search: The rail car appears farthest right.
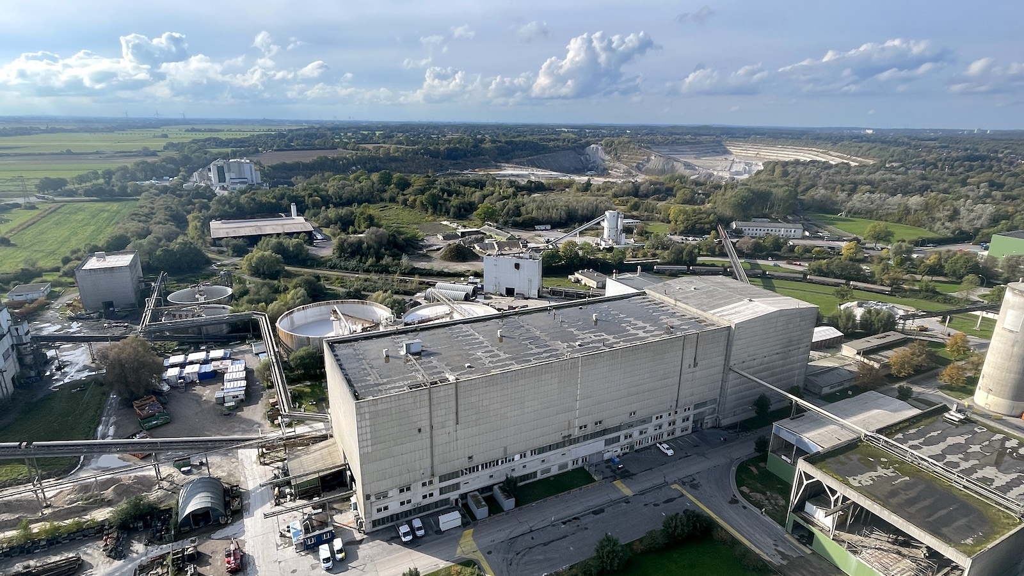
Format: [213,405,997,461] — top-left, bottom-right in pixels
[857,284,894,296]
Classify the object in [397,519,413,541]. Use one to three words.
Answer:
car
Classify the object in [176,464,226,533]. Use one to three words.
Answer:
shed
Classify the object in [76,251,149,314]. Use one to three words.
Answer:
building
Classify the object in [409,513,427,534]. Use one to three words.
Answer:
car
